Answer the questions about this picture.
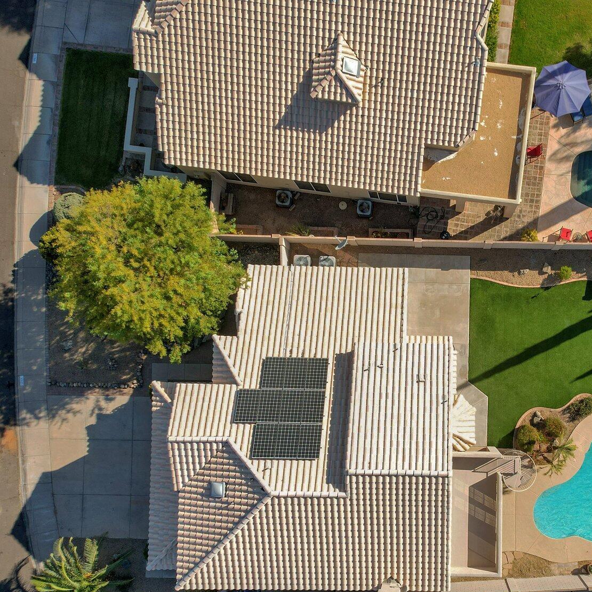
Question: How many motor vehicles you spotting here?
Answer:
zero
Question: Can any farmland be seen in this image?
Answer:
No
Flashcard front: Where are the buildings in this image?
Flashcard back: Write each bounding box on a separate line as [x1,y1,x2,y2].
[145,265,501,592]
[132,0,535,221]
